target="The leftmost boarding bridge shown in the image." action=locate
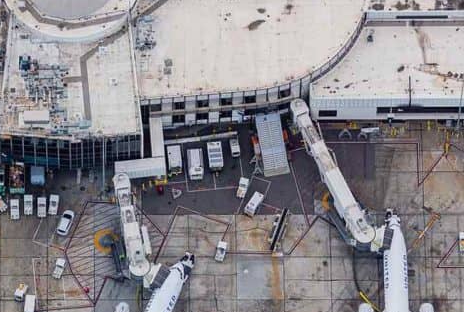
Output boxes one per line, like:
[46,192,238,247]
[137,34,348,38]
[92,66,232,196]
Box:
[110,157,172,298]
